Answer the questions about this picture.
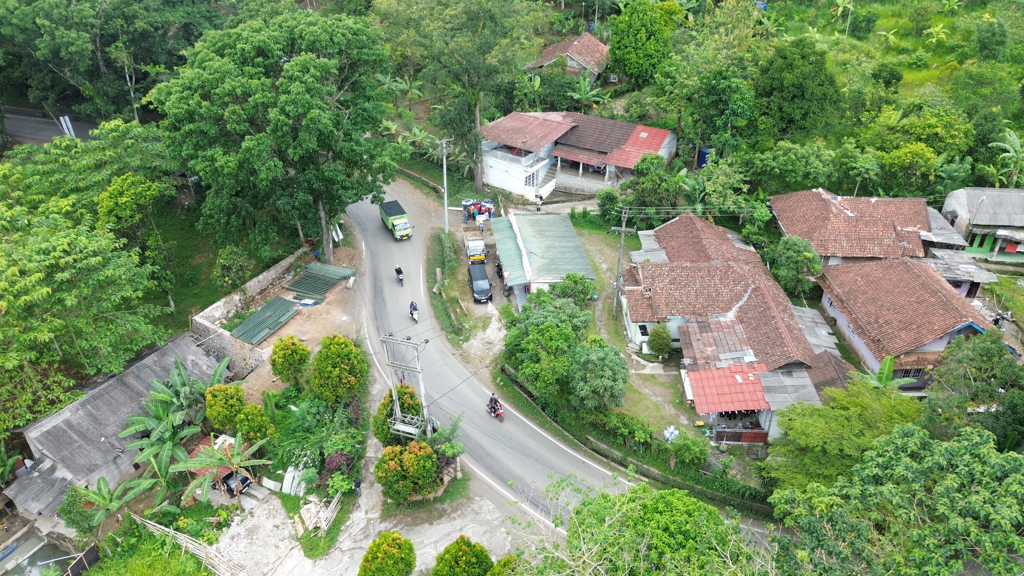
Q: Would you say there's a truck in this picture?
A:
Yes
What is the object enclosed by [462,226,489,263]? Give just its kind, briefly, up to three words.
truck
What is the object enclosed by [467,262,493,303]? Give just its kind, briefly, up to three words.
vehicle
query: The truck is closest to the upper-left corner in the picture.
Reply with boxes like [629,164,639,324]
[377,197,414,241]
